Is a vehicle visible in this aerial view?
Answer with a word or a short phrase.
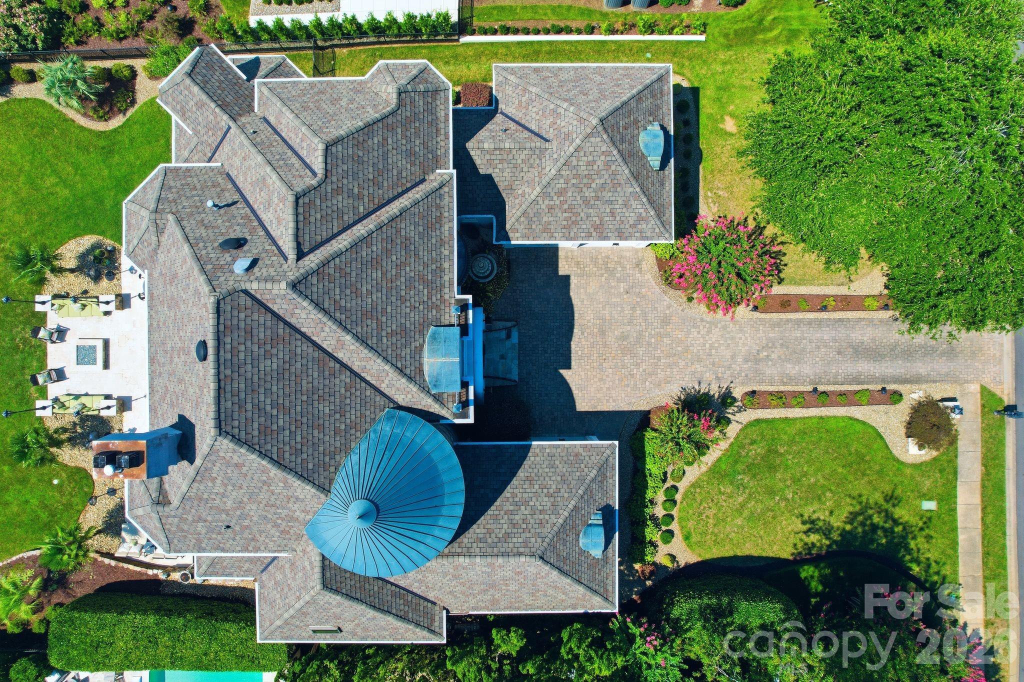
No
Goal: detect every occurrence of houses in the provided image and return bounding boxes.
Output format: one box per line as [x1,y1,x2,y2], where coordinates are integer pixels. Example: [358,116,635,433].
[87,35,676,645]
